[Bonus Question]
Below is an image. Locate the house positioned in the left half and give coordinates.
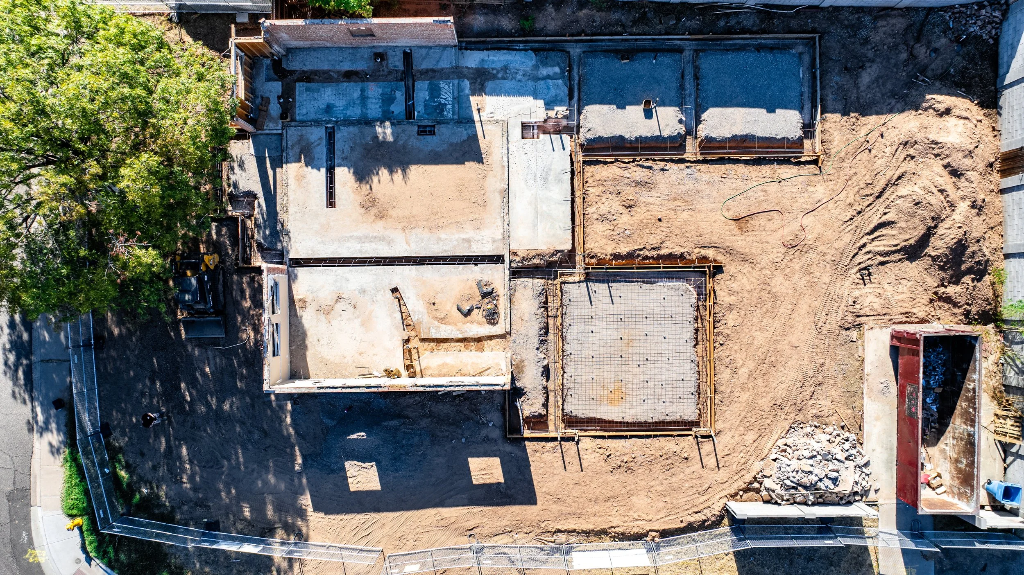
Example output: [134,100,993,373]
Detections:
[221,11,571,400]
